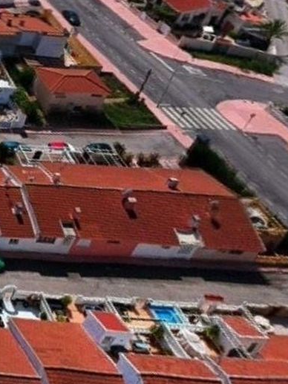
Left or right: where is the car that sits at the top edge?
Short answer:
left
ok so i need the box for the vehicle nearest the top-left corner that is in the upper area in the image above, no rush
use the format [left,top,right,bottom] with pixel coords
[59,6,82,26]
